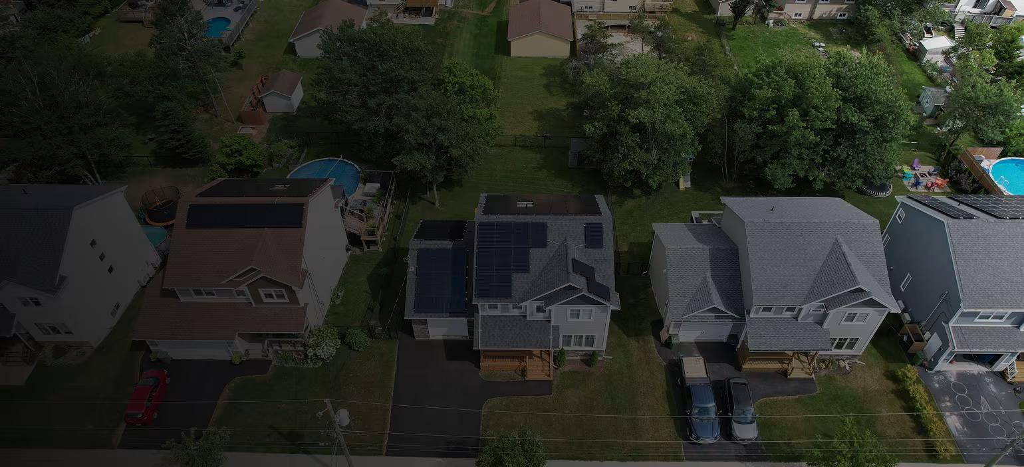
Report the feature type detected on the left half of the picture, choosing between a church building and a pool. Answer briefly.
pool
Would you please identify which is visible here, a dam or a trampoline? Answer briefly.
trampoline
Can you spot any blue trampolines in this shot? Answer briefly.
No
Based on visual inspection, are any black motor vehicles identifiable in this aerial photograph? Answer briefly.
Yes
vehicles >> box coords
[123,367,174,430]
[715,370,762,444]
[671,353,722,445]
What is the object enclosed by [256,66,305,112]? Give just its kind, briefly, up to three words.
shed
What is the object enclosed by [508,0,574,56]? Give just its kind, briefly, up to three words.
building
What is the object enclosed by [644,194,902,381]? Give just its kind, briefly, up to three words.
house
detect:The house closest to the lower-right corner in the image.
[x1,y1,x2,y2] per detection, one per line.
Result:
[882,195,1024,371]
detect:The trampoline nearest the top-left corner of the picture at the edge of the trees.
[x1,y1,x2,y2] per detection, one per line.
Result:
[130,184,181,228]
